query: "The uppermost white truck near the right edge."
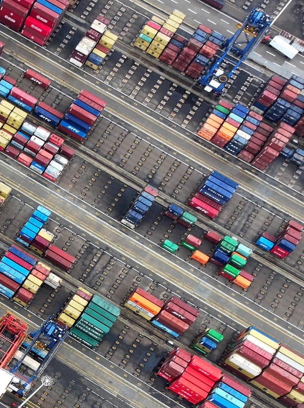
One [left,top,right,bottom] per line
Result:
[257,36,296,60]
